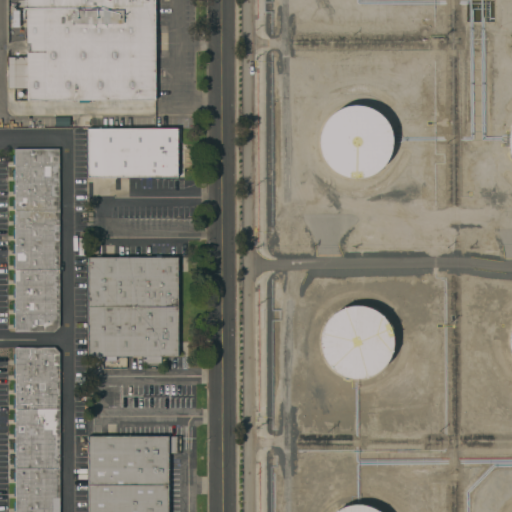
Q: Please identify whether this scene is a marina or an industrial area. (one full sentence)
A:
It's an industrial area.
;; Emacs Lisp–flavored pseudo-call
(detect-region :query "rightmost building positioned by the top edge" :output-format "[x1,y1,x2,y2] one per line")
[26,0,157,103]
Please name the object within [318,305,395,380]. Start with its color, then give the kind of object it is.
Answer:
white storage tank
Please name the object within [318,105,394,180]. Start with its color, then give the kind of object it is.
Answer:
white storage tank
